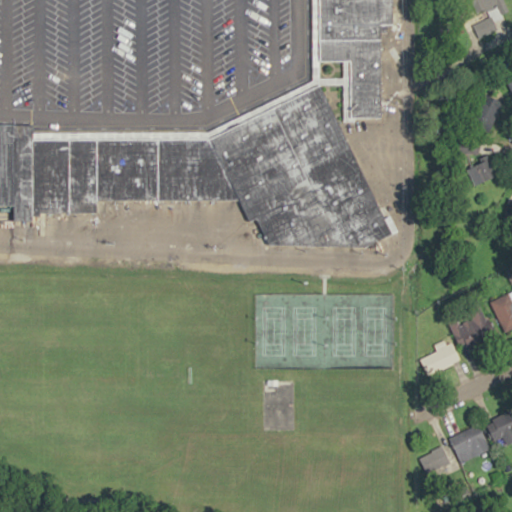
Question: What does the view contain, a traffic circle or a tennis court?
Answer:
tennis court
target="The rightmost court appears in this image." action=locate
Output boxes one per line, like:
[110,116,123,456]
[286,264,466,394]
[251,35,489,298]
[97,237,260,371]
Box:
[360,294,394,368]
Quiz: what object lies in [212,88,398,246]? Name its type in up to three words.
building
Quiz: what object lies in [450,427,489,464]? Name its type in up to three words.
house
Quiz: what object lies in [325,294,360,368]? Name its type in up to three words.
tennis court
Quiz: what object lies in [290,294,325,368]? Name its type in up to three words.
tennis court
